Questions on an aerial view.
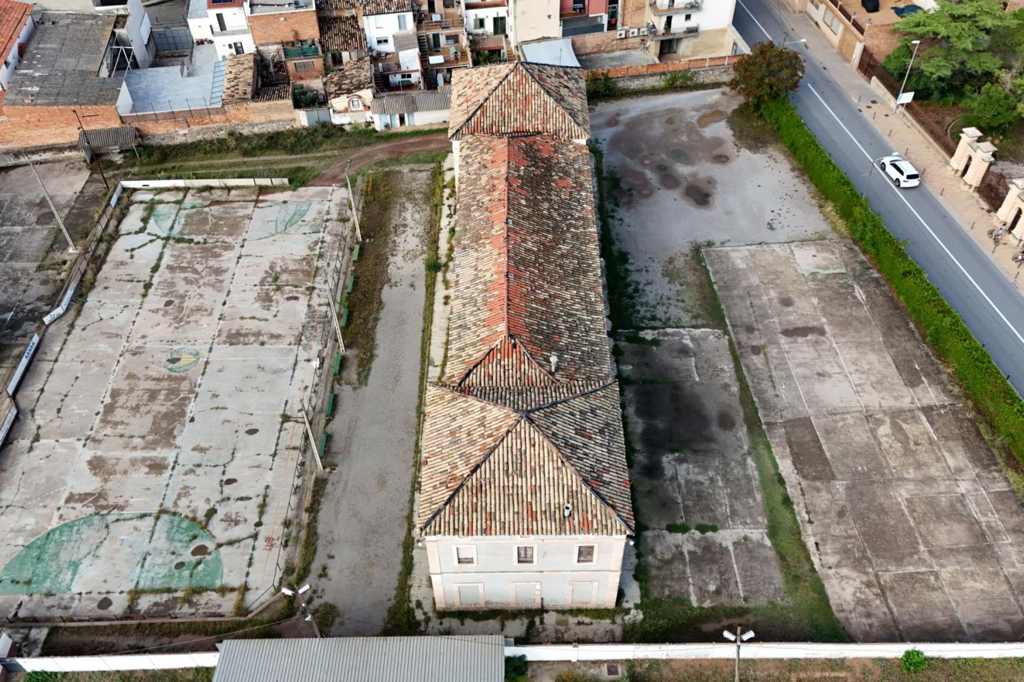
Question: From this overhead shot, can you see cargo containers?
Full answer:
No, I find no cargo container anywhere in the image.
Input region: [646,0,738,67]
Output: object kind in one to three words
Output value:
house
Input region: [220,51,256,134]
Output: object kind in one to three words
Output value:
shed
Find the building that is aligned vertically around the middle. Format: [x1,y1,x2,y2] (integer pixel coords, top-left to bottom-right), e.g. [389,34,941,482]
[415,62,637,611]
